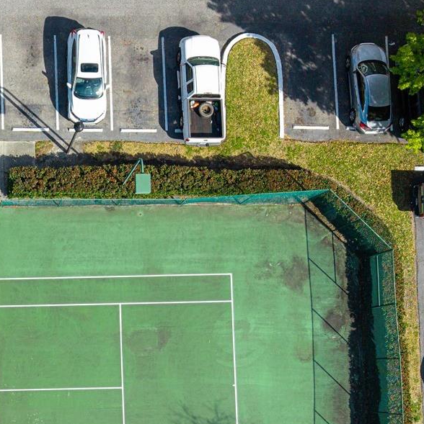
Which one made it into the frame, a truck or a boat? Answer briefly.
truck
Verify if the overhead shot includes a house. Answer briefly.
No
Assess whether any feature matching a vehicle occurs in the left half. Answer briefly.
Yes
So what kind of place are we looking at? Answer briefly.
sports ground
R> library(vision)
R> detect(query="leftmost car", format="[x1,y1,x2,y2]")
[63,23,112,127]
